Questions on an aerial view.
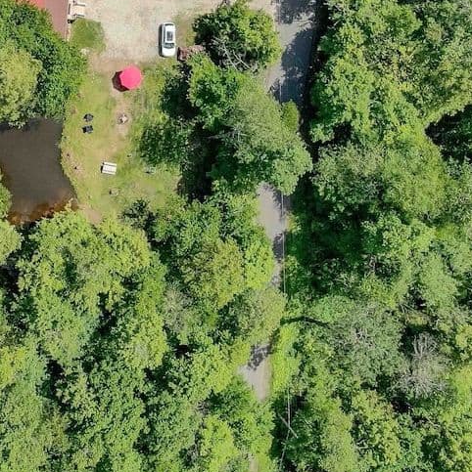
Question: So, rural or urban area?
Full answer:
The area is rural.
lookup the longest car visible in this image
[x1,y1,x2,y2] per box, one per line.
[160,22,178,57]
